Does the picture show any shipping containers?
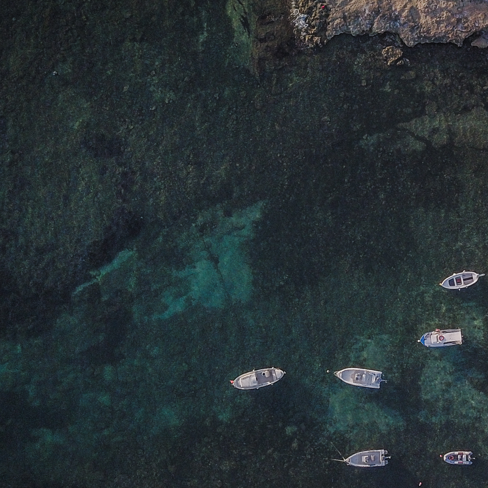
No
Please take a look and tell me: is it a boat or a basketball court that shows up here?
boat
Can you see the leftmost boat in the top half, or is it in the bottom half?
bottom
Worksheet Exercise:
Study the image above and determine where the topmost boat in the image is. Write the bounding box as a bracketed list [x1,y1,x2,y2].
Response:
[438,268,486,290]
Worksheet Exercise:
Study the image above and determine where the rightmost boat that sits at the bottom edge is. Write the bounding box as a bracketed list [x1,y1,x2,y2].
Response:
[444,450,476,464]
